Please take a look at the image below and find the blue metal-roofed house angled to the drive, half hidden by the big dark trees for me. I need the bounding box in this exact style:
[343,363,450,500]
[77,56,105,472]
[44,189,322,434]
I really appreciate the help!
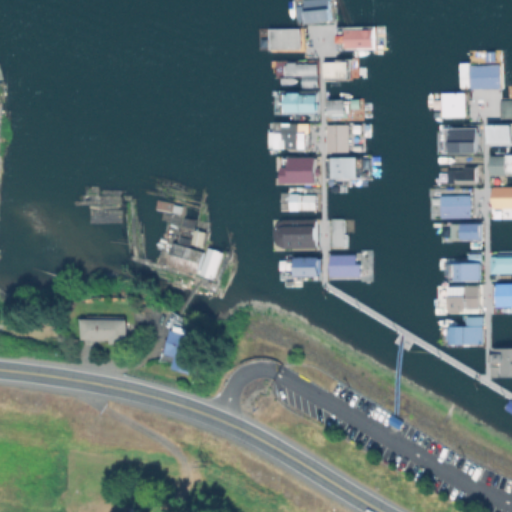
[160,313,187,373]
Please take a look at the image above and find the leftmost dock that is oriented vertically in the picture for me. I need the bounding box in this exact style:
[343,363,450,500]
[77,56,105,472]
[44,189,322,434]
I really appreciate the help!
[128,196,145,258]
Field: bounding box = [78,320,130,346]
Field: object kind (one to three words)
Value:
house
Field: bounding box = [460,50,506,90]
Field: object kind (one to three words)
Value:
boat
